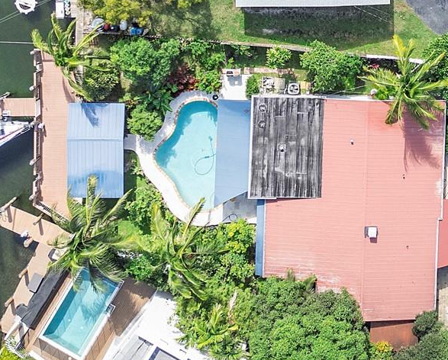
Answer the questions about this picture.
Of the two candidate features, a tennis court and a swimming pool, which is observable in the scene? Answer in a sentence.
It is a swimming pool that can be seen here.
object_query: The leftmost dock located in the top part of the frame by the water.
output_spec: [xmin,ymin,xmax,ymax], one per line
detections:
[0,97,35,117]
